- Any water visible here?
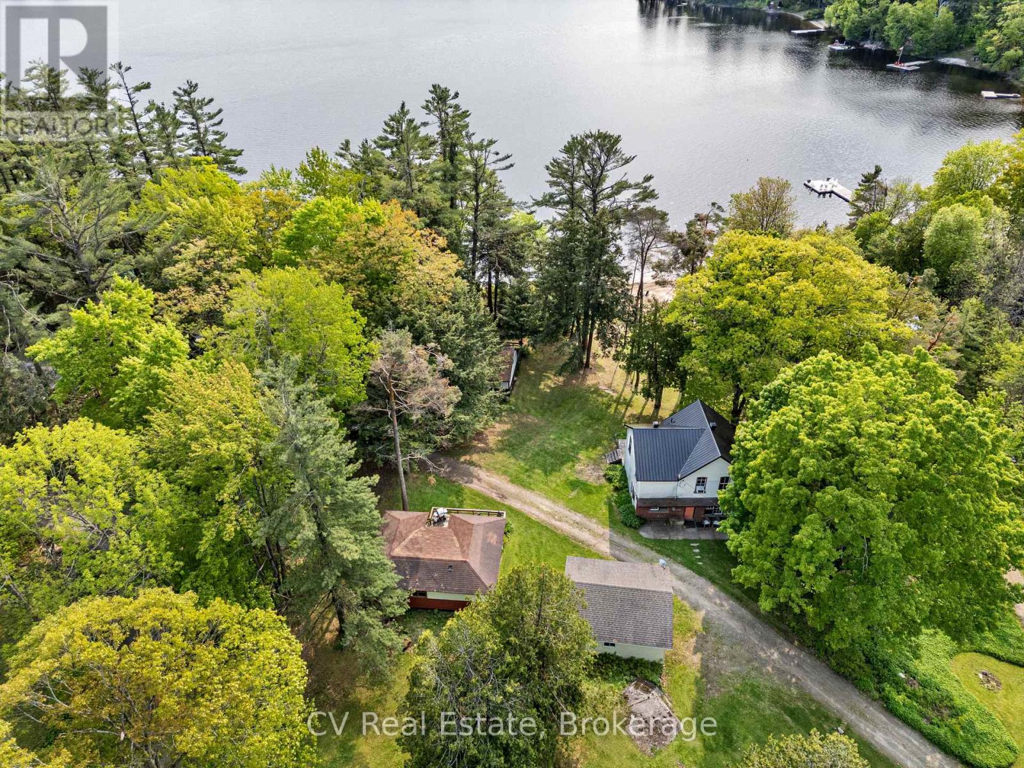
Yes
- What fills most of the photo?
trees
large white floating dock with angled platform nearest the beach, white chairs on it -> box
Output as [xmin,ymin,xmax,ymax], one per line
[804,180,874,209]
